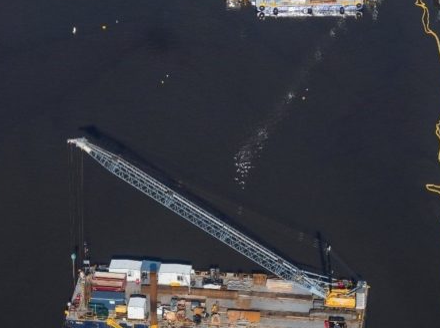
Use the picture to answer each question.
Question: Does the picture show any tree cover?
No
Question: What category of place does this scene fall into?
port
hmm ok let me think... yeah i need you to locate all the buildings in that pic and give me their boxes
[109,260,144,284]
[157,262,194,287]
